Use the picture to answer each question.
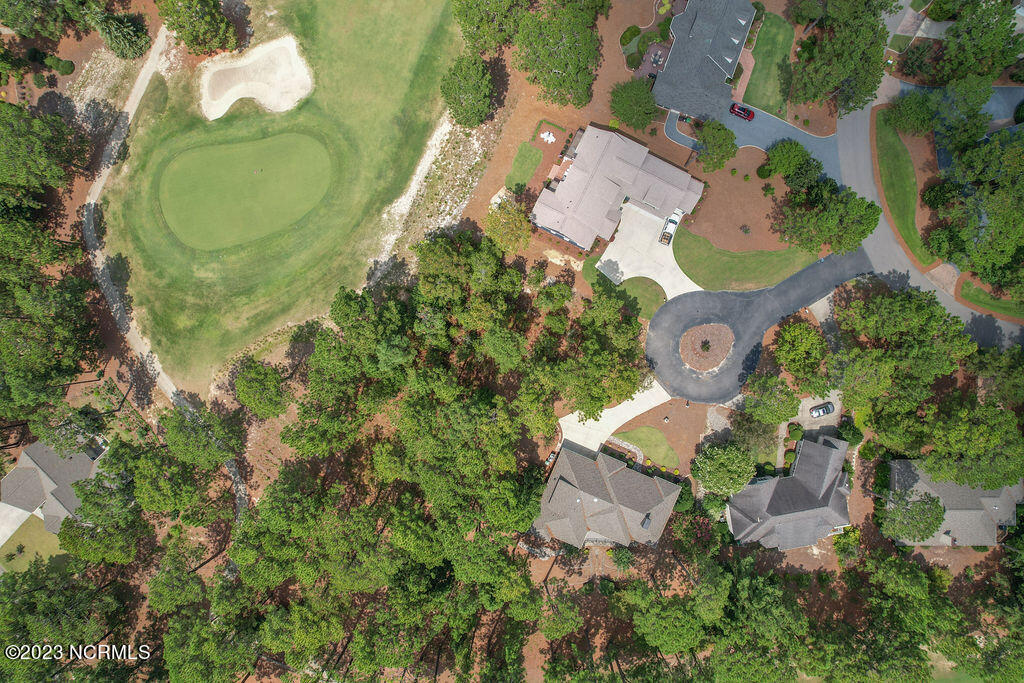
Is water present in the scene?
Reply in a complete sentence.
No, there is no water in the image.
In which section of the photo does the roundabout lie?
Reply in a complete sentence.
You can find the roundabout in the right area of the picture.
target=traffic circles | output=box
[646,246,874,404]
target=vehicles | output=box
[730,102,756,121]
[809,401,839,420]
[657,209,684,248]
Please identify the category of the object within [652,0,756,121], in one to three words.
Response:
house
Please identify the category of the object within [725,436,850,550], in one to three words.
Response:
house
